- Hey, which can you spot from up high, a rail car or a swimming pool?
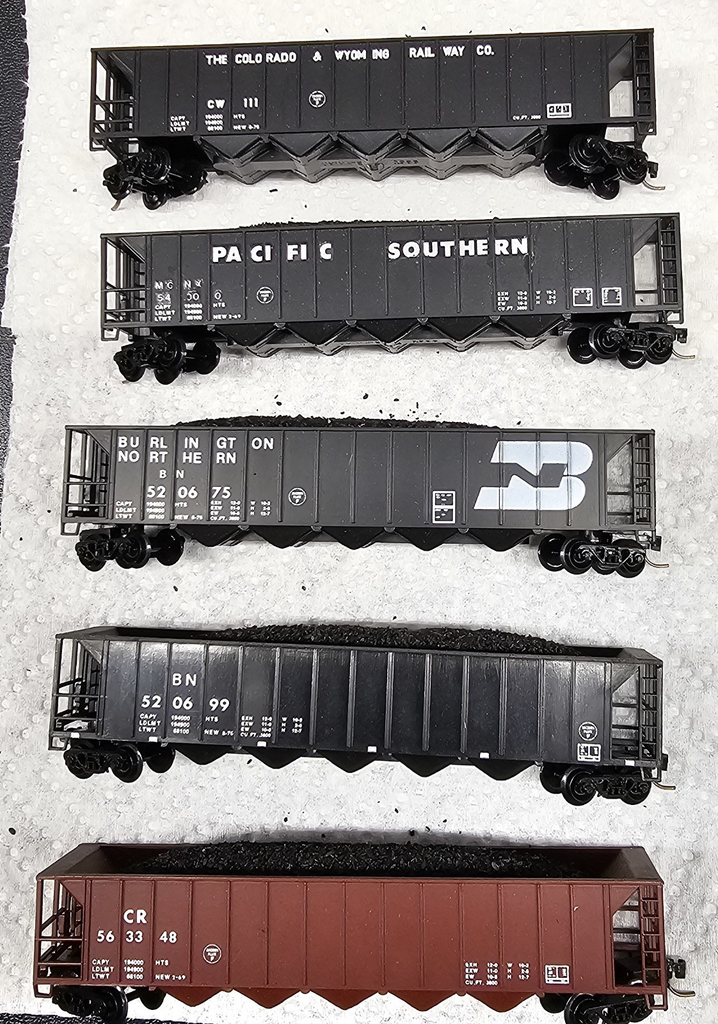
rail car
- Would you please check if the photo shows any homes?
No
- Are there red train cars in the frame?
Yes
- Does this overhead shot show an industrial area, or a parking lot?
parking lot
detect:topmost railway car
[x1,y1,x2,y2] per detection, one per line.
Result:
[90,30,669,211]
